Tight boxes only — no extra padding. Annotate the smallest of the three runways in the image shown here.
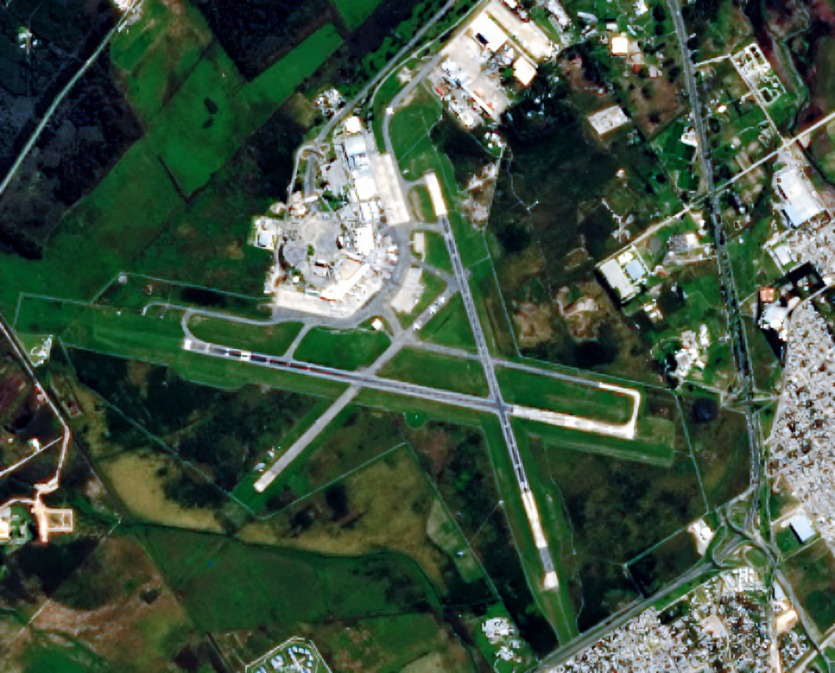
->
[255,285,469,492]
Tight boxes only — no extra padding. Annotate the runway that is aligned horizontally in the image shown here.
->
[183,339,635,439]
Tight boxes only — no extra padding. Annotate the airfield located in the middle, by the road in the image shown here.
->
[142,32,640,592]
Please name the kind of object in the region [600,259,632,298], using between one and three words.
building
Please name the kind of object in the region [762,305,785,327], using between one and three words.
building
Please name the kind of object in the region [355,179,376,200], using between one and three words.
hangar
